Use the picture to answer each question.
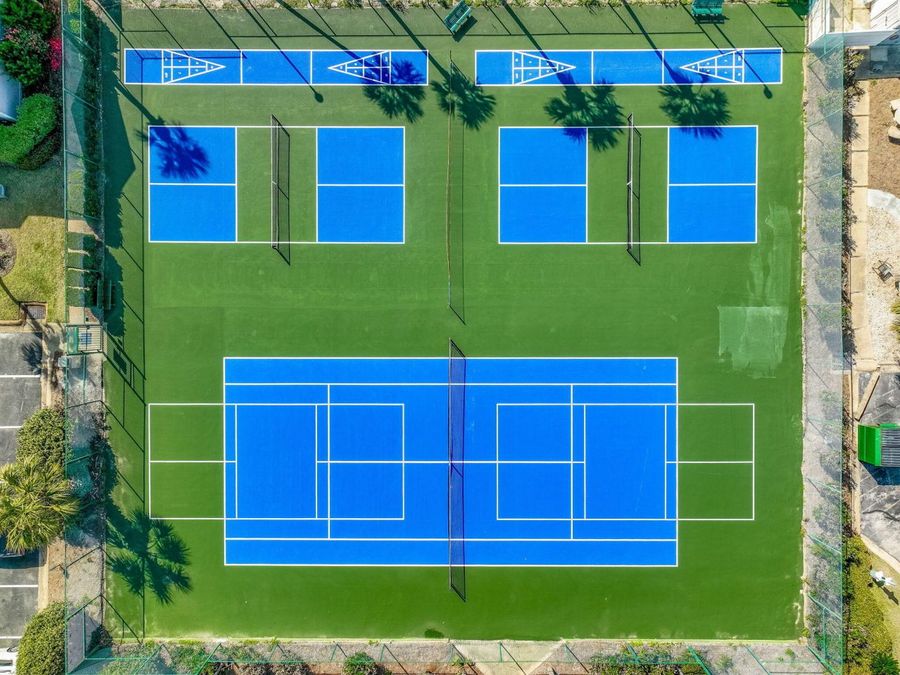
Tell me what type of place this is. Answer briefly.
sports ground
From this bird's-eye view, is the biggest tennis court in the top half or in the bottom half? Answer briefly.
bottom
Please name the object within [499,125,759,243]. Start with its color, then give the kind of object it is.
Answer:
blue sports court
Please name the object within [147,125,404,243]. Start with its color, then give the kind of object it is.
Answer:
blue sports court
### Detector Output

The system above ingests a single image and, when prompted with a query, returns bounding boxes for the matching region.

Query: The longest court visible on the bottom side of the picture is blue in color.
[223,358,679,568]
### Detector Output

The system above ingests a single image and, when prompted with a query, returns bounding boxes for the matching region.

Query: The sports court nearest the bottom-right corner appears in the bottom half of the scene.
[497,403,756,520]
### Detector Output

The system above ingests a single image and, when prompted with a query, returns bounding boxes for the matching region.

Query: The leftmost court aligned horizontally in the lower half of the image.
[147,403,403,520]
